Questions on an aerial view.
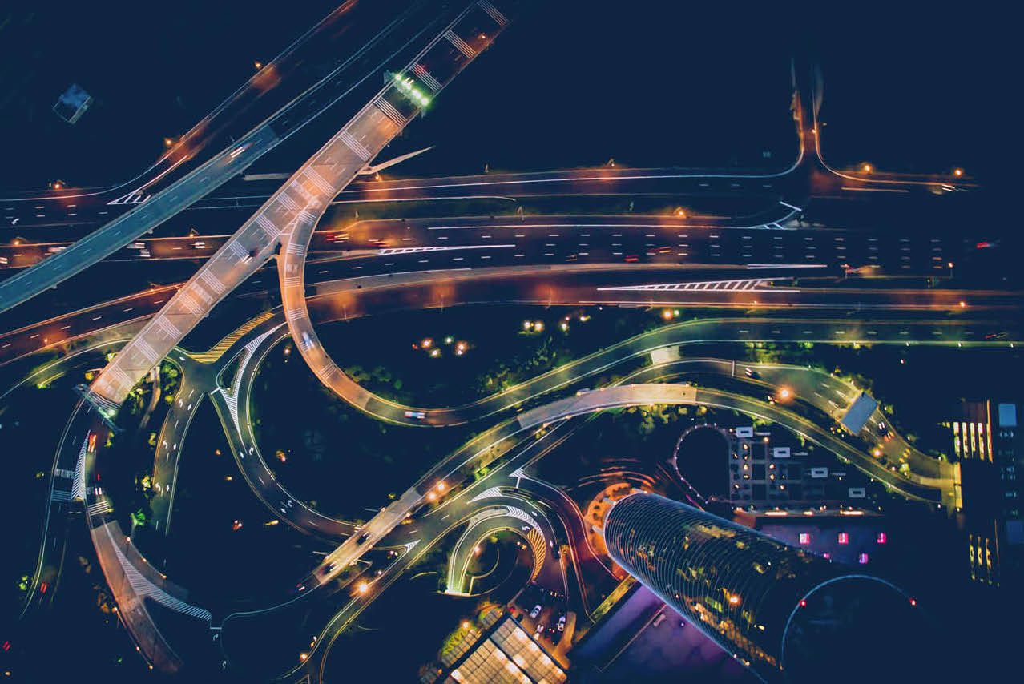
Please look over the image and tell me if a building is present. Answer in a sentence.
Yes, there's a building here.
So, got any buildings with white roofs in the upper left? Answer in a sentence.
No, there's no building with a white roof to be seen in the upper left.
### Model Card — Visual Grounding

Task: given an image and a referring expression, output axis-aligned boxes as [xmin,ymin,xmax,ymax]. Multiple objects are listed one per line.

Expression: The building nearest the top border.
[53,83,95,126]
